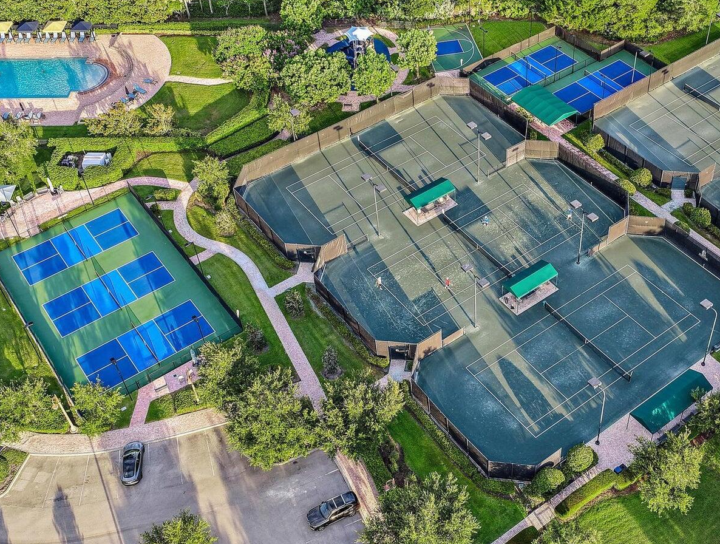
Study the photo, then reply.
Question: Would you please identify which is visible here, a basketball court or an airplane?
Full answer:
There is a basketball court in the scene.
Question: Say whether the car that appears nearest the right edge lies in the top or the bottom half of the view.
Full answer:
The bottom half of the photo is where the car that appears nearest the right edge is.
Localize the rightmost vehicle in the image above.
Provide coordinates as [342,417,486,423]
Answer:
[309,493,364,532]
